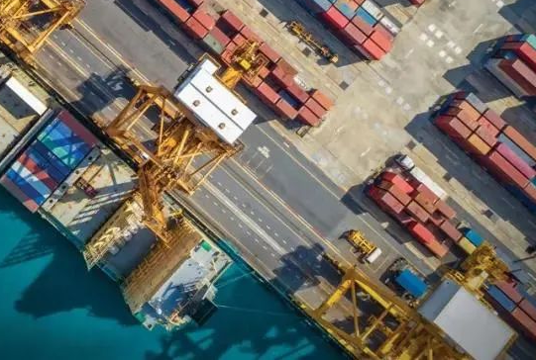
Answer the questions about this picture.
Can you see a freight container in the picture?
Yes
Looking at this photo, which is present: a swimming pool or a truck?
truck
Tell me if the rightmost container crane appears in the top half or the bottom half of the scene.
bottom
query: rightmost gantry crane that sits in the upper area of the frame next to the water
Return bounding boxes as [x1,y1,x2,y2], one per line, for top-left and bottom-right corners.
[93,35,270,247]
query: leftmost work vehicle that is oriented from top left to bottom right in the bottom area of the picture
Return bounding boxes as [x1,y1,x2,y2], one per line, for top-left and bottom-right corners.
[341,224,380,259]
